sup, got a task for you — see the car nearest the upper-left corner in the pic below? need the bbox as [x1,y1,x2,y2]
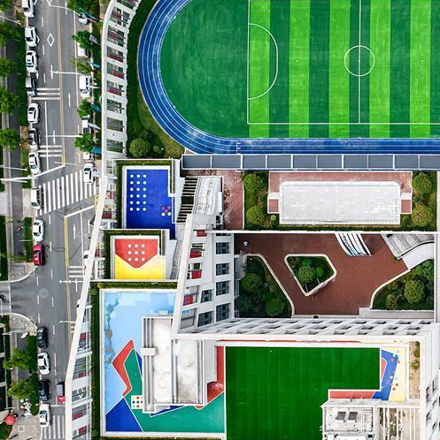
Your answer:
[22,0,35,18]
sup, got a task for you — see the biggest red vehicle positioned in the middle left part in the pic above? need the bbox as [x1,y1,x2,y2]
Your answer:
[34,244,47,266]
